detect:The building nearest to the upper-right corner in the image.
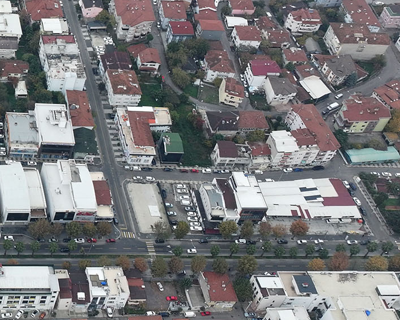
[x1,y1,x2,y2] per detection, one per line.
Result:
[380,3,400,26]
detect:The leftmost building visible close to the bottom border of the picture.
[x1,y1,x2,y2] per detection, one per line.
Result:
[0,265,58,307]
